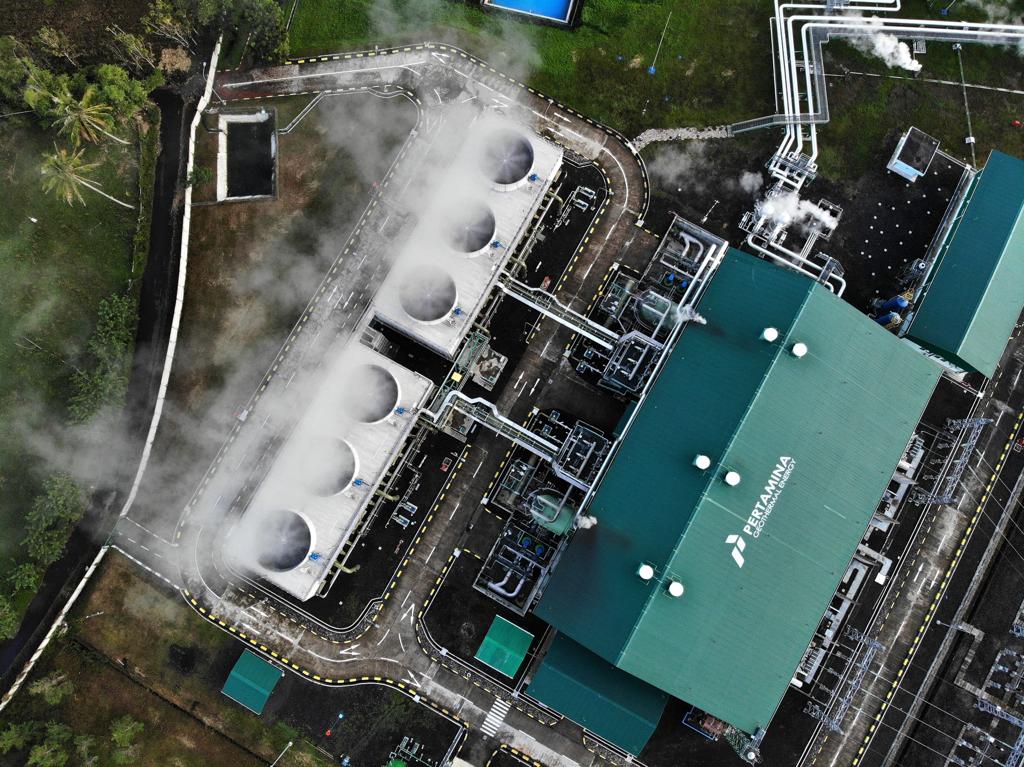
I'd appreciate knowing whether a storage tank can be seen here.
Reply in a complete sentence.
Yes, looking at the shot, I can spot a storage tank.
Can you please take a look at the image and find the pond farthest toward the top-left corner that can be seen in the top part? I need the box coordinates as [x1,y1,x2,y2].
[206,110,278,201]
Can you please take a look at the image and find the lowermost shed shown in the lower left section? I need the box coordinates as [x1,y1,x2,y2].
[221,646,286,714]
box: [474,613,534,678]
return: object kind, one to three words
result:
shed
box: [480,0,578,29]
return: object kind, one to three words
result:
pond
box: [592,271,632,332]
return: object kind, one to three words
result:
storage tank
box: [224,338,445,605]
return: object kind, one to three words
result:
cooling tower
